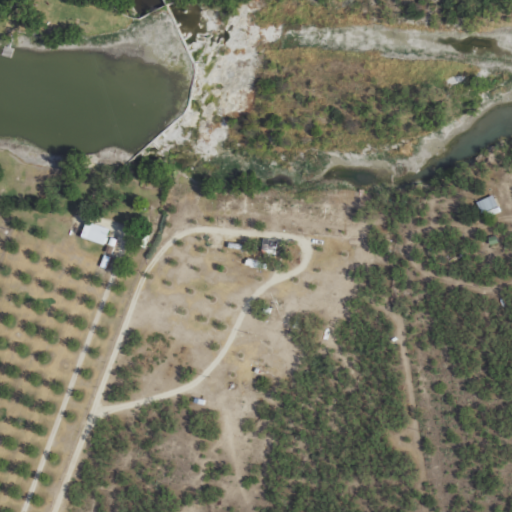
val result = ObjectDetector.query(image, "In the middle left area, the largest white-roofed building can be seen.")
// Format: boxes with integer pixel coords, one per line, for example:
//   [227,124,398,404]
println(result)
[81,224,110,245]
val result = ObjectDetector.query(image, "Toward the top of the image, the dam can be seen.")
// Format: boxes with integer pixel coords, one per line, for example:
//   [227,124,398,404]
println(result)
[132,0,198,161]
